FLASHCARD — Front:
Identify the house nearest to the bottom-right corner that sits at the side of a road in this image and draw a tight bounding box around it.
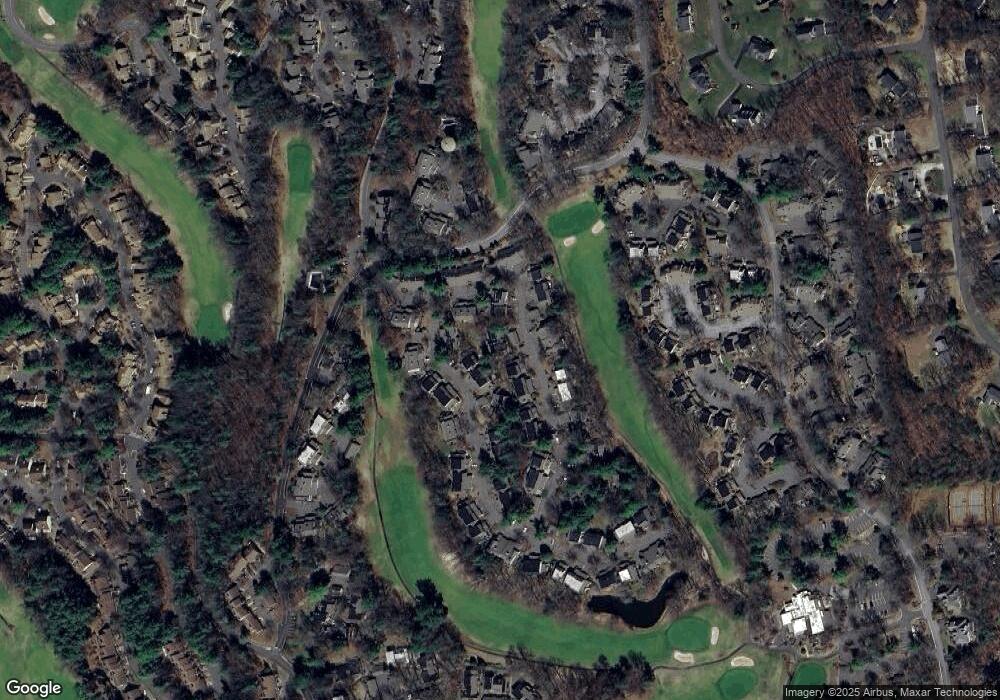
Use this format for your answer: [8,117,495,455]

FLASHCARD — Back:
[947,623,973,642]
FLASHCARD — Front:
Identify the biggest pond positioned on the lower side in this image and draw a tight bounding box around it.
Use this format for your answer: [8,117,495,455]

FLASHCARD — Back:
[588,571,690,627]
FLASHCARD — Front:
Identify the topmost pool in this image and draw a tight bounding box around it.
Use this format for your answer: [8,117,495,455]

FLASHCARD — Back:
[868,130,893,150]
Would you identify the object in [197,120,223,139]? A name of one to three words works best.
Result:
house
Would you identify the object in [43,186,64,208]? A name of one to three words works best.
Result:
building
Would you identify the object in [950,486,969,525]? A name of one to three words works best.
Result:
tennis court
